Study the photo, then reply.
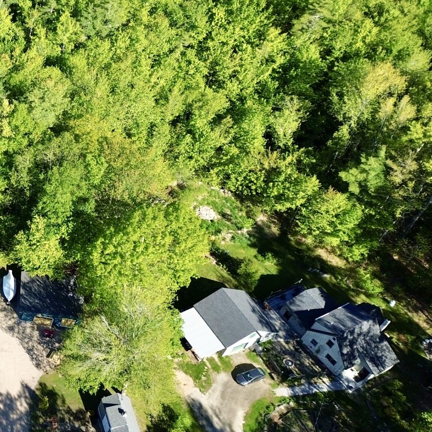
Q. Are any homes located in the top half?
No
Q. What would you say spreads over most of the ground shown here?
trees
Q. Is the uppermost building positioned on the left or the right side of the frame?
left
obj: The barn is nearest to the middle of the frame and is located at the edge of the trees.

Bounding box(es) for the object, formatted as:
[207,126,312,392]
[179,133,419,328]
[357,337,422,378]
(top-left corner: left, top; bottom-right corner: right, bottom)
[182,291,275,363]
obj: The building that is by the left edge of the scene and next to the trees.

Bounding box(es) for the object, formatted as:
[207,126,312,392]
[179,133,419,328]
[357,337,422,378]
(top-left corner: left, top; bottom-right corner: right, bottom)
[19,271,78,326]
